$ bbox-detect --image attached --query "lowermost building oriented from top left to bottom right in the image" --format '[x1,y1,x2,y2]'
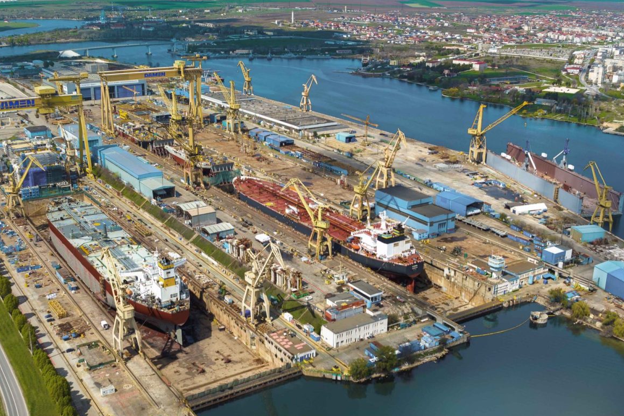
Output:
[258,319,317,363]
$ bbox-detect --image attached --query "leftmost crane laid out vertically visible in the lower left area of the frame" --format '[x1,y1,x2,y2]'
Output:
[96,247,150,361]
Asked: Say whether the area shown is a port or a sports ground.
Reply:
port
